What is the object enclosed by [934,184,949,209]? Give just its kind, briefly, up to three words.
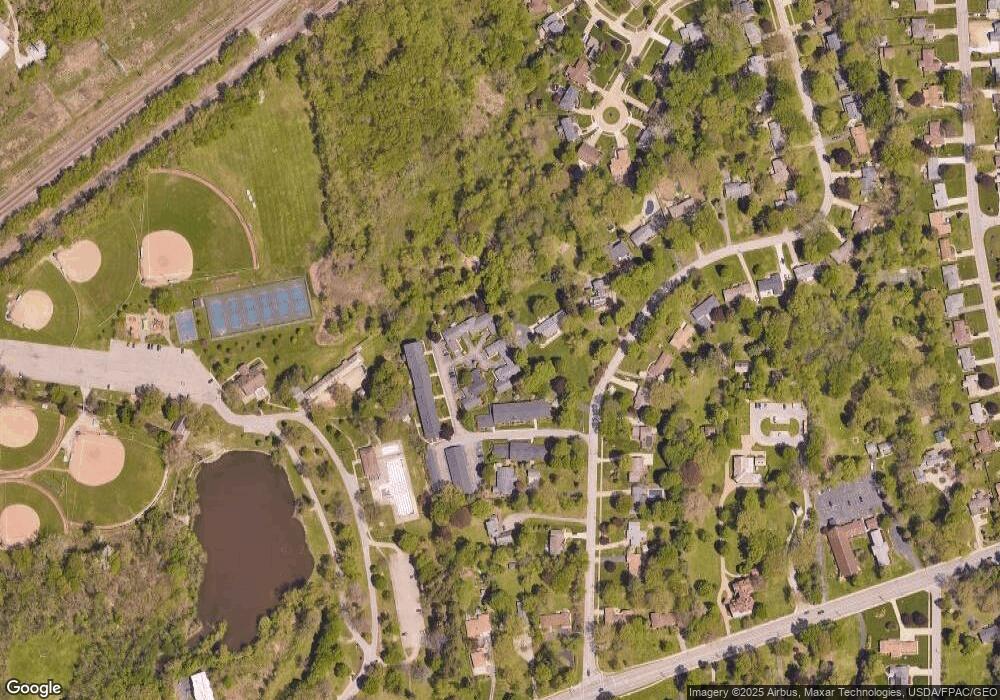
house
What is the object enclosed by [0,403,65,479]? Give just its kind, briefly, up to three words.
baseball field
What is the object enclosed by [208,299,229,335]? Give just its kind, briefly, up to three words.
tennis court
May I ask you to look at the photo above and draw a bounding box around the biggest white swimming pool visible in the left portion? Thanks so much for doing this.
[369,440,421,523]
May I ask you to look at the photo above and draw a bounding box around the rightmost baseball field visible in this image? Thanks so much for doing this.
[140,168,257,288]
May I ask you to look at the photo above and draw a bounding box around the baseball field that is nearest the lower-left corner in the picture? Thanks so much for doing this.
[0,479,66,549]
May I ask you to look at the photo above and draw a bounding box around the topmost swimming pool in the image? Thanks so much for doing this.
[642,191,662,217]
